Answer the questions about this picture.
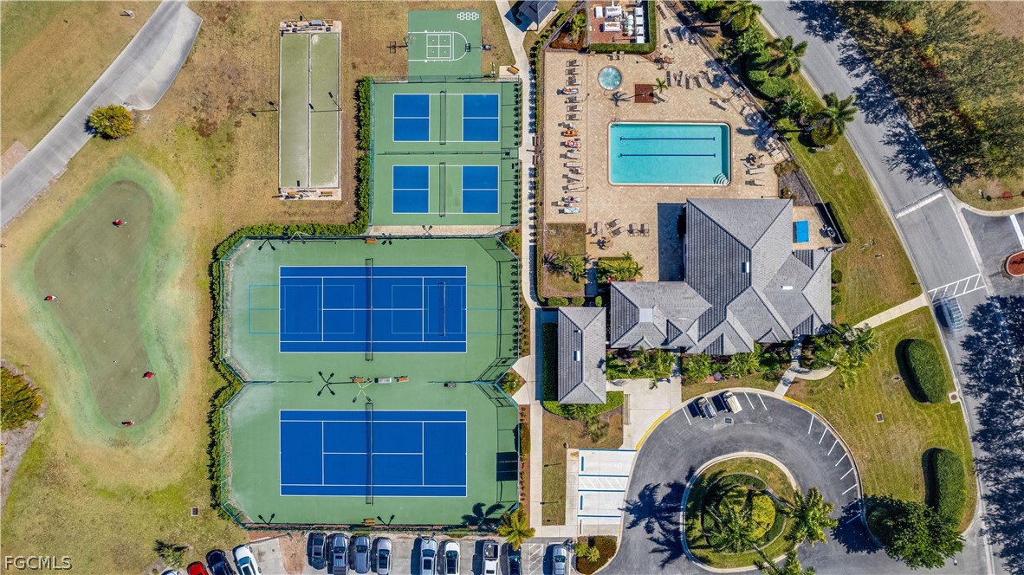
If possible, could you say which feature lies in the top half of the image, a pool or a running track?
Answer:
pool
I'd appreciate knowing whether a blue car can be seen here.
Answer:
Yes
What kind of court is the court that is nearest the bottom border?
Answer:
tennis court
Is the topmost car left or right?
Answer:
right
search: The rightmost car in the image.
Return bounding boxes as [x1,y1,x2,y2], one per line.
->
[937,295,965,334]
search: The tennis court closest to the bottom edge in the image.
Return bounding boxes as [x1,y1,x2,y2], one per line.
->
[230,383,518,524]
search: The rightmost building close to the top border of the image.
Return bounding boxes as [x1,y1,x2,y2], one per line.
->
[505,0,571,37]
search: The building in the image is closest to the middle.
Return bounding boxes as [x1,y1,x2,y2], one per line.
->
[558,307,607,405]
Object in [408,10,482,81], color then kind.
green basketball court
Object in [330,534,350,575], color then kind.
blue vehicle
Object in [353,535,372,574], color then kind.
blue car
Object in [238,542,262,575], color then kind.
white car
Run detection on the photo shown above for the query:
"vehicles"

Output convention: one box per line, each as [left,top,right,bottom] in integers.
[506,544,524,575]
[190,560,209,575]
[723,392,743,415]
[484,543,500,575]
[420,539,439,575]
[238,542,262,575]
[551,546,569,575]
[353,535,372,574]
[211,548,236,575]
[697,398,717,421]
[937,295,965,334]
[443,542,462,575]
[375,537,393,575]
[311,532,330,570]
[330,534,350,575]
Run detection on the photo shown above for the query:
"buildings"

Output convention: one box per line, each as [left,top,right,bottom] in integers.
[558,307,607,405]
[610,197,833,356]
[505,0,571,37]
